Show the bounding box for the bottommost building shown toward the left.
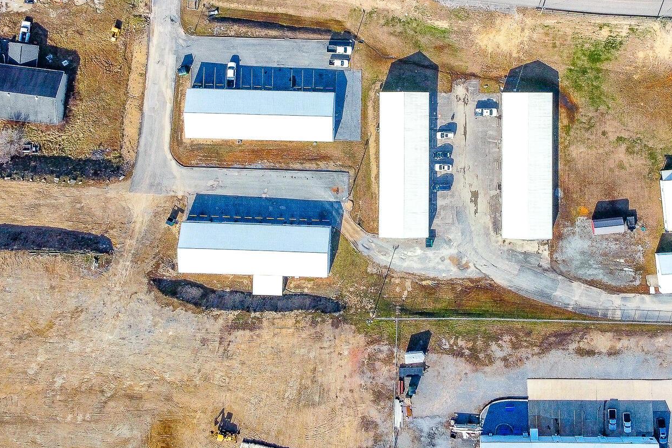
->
[177,220,332,296]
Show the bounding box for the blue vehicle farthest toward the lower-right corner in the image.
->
[656,416,668,442]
